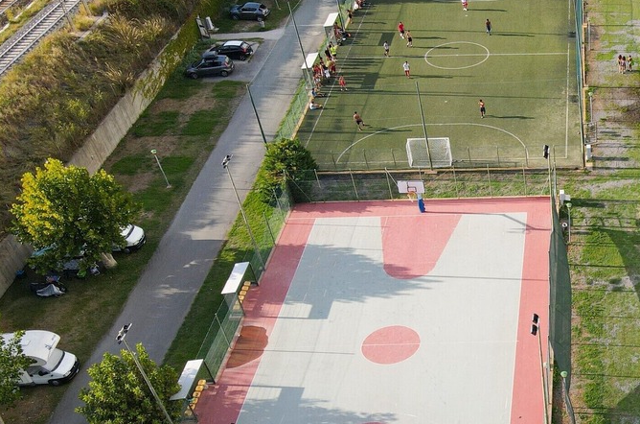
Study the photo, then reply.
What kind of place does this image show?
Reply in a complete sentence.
This image shows a sports ground.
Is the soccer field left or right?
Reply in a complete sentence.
The soccer field appears in the right half of the scene.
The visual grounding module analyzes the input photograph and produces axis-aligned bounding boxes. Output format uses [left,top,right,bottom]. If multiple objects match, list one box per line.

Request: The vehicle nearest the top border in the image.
[229,4,272,23]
